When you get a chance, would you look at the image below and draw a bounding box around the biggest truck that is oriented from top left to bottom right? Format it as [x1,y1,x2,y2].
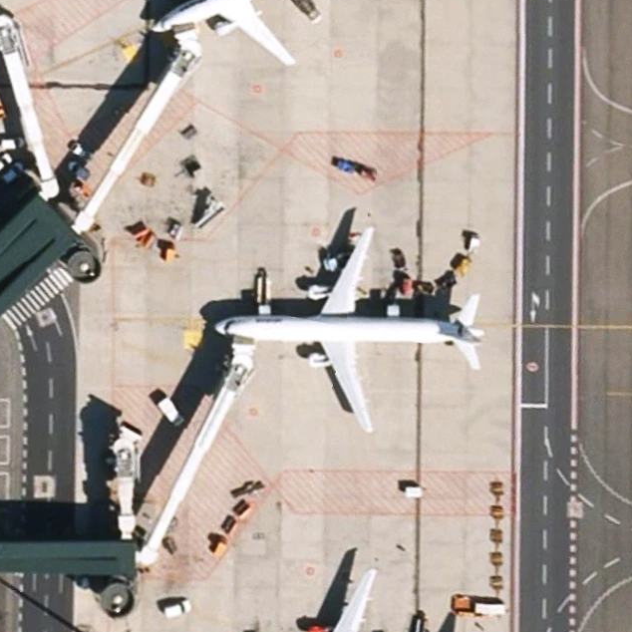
[149,388,180,426]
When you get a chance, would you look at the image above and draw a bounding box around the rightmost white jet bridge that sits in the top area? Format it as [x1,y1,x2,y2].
[74,22,197,242]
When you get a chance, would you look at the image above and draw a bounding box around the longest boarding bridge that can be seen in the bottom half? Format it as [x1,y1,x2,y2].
[135,337,252,560]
